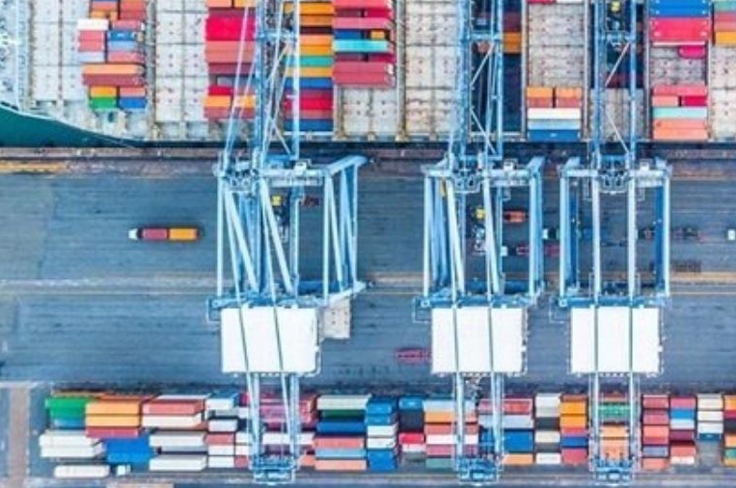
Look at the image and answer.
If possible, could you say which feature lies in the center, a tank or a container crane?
container crane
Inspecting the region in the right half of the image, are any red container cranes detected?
No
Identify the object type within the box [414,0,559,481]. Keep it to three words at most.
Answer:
container crane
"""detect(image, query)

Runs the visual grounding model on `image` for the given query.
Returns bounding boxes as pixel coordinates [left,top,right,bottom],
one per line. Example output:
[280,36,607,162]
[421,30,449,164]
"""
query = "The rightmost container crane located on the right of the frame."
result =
[549,0,679,481]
